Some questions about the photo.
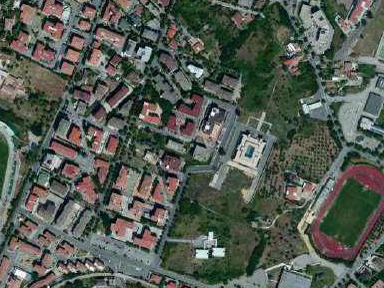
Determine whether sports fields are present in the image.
Yes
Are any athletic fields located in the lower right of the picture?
Yes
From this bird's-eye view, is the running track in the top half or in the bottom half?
bottom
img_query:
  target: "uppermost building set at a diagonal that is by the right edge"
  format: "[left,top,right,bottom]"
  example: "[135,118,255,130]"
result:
[335,0,373,35]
